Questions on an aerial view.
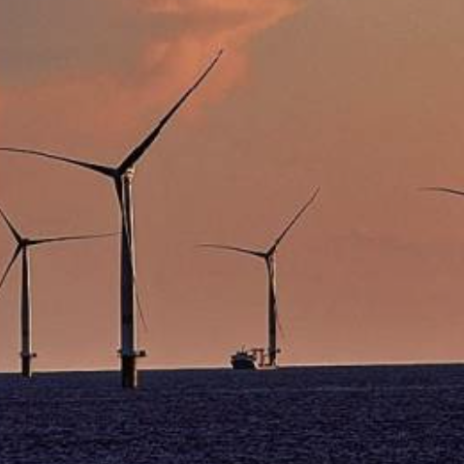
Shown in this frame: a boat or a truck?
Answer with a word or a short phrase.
boat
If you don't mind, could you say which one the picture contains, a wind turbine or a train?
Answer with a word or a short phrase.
wind turbine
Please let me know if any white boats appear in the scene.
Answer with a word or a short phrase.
No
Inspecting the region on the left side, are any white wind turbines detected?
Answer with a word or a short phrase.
No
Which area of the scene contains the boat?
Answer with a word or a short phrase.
bottom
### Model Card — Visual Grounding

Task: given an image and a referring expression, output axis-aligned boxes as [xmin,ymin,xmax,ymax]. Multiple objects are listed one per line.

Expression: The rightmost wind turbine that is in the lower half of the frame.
[203,189,319,369]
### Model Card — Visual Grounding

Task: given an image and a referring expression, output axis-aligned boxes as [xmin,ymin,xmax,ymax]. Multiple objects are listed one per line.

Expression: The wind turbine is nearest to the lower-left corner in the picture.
[0,204,115,375]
